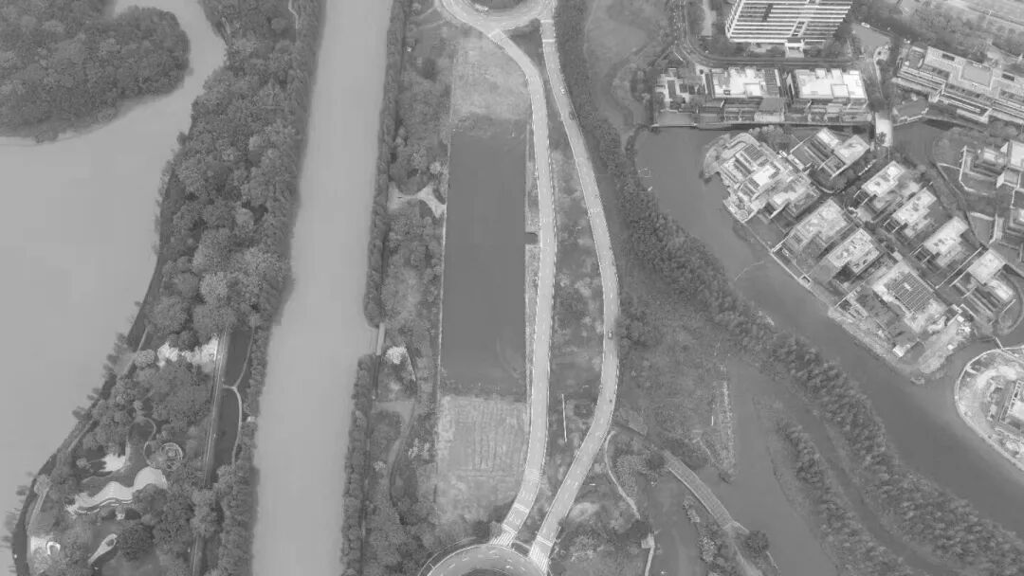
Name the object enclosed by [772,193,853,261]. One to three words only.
house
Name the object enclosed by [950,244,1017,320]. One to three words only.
house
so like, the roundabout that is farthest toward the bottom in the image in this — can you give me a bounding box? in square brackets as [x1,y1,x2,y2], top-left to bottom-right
[413,531,562,576]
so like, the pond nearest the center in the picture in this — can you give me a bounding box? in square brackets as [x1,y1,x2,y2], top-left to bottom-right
[441,132,537,397]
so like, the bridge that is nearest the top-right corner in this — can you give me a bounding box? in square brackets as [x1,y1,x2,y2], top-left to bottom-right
[876,111,894,151]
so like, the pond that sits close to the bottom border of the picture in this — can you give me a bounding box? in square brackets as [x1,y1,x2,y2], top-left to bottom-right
[690,363,828,576]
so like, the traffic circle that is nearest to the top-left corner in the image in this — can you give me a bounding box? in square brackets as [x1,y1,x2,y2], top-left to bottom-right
[432,0,558,36]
